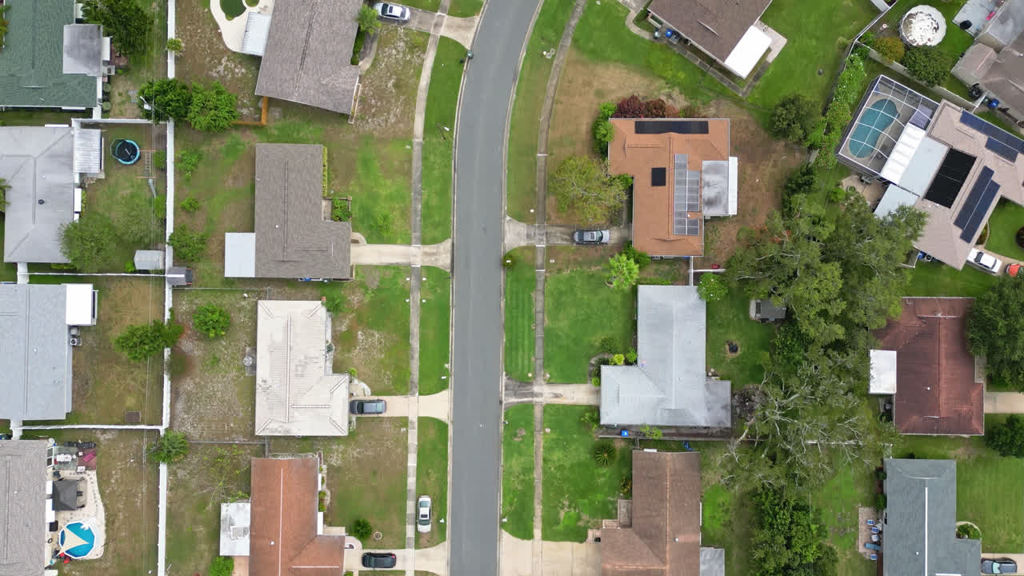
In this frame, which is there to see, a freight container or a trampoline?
trampoline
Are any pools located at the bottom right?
No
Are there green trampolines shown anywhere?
No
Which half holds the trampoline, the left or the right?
left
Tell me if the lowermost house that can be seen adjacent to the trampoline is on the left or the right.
left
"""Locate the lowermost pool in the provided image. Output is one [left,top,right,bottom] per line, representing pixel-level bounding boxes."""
[60,520,98,557]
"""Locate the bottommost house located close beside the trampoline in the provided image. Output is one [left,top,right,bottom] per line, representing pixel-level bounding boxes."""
[0,126,107,263]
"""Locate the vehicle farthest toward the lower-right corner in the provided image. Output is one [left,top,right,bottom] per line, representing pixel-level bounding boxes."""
[981,556,1018,575]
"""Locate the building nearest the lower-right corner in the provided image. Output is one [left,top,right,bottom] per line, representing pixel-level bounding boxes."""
[876,457,981,576]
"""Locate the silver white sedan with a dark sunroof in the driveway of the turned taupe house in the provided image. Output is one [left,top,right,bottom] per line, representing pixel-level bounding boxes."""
[375,3,411,23]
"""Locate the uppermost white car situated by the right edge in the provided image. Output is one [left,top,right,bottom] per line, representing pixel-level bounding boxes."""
[966,247,1004,274]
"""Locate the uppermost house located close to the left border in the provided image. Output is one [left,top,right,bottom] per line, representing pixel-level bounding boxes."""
[0,0,111,109]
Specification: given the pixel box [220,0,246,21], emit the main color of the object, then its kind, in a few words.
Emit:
green swimming pool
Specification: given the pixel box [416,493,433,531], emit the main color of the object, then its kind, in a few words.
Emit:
white car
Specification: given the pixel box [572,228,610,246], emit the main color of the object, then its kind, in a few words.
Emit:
gray car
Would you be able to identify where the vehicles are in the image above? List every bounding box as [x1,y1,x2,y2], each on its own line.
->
[350,398,387,415]
[416,493,433,531]
[966,247,1004,274]
[981,556,1018,575]
[572,228,610,246]
[361,549,398,569]
[375,3,411,23]
[1002,262,1024,280]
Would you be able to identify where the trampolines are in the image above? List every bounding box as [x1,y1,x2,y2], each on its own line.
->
[107,136,144,166]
